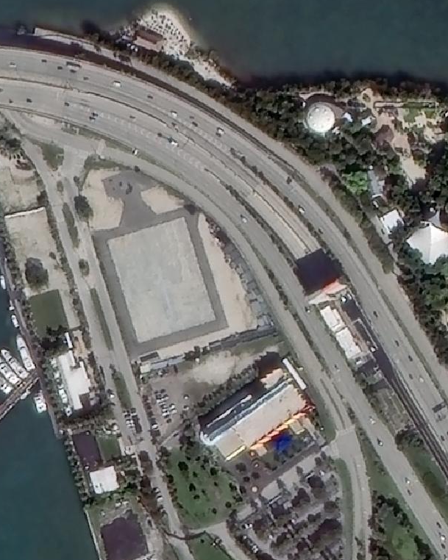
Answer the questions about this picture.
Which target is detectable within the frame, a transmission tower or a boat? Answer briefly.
boat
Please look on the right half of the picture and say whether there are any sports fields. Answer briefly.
No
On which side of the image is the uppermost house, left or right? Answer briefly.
left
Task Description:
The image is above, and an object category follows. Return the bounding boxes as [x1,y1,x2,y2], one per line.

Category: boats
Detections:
[35,391,45,413]
[11,315,19,328]
[0,376,13,396]
[18,335,34,371]
[1,276,7,290]
[0,358,22,386]
[3,350,28,381]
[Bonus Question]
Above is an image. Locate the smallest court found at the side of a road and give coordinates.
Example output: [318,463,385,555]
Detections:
[98,436,122,462]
